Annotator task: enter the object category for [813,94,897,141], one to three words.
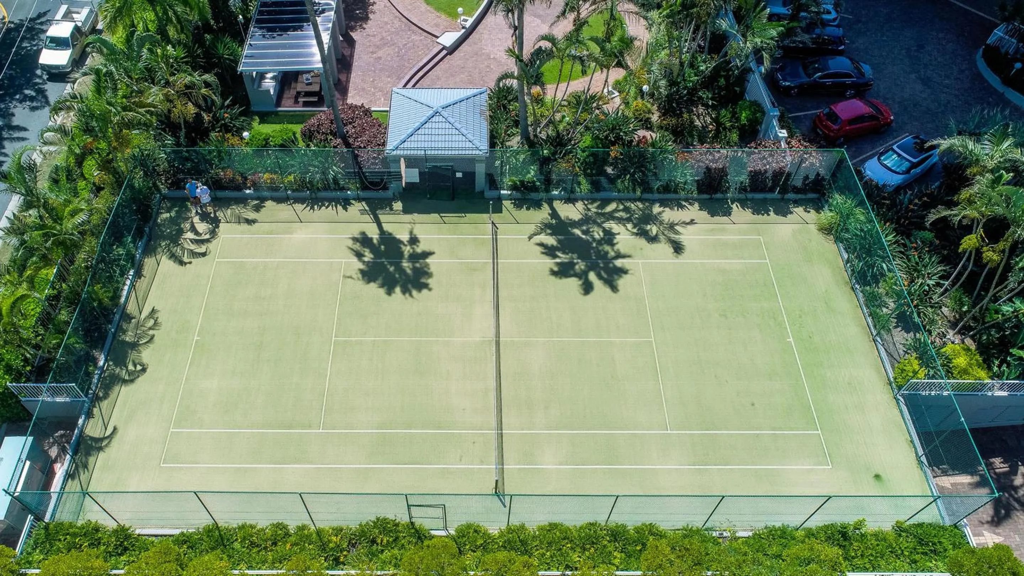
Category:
car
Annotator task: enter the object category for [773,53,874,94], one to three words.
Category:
car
